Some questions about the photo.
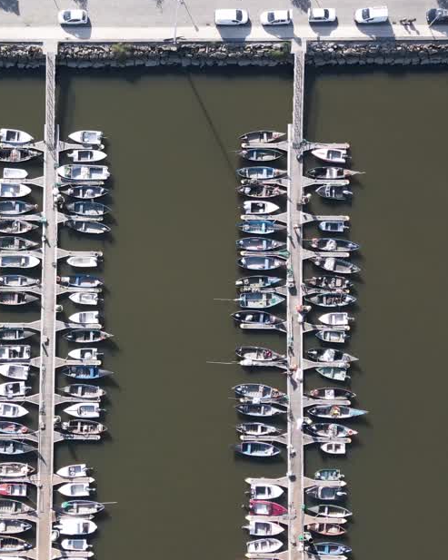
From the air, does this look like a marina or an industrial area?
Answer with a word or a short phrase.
marina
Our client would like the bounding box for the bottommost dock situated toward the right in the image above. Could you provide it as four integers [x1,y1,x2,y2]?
[239,125,350,560]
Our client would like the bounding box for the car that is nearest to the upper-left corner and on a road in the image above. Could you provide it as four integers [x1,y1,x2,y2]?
[59,9,90,26]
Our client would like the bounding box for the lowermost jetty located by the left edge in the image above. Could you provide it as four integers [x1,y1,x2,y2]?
[0,125,104,560]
